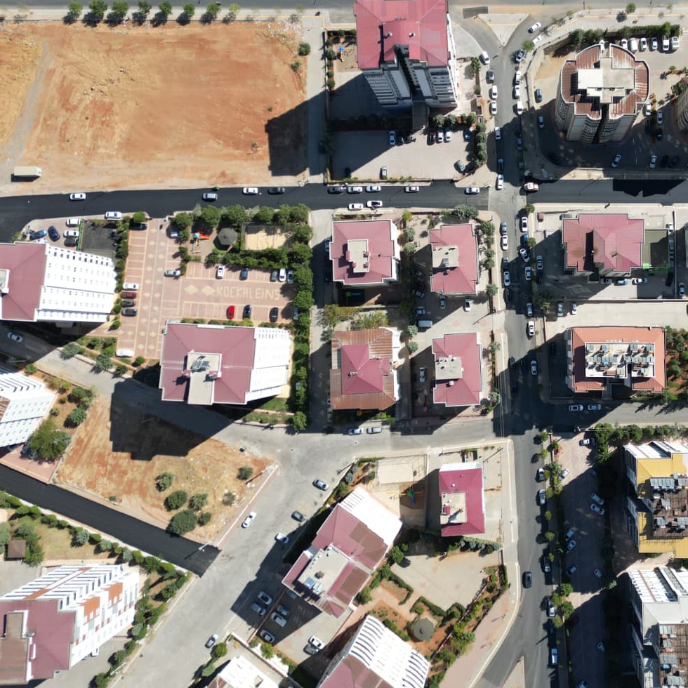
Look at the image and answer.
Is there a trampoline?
No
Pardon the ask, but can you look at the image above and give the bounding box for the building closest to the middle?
[330,329,401,413]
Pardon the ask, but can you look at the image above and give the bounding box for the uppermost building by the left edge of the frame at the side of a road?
[0,243,110,323]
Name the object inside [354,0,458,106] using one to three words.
building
